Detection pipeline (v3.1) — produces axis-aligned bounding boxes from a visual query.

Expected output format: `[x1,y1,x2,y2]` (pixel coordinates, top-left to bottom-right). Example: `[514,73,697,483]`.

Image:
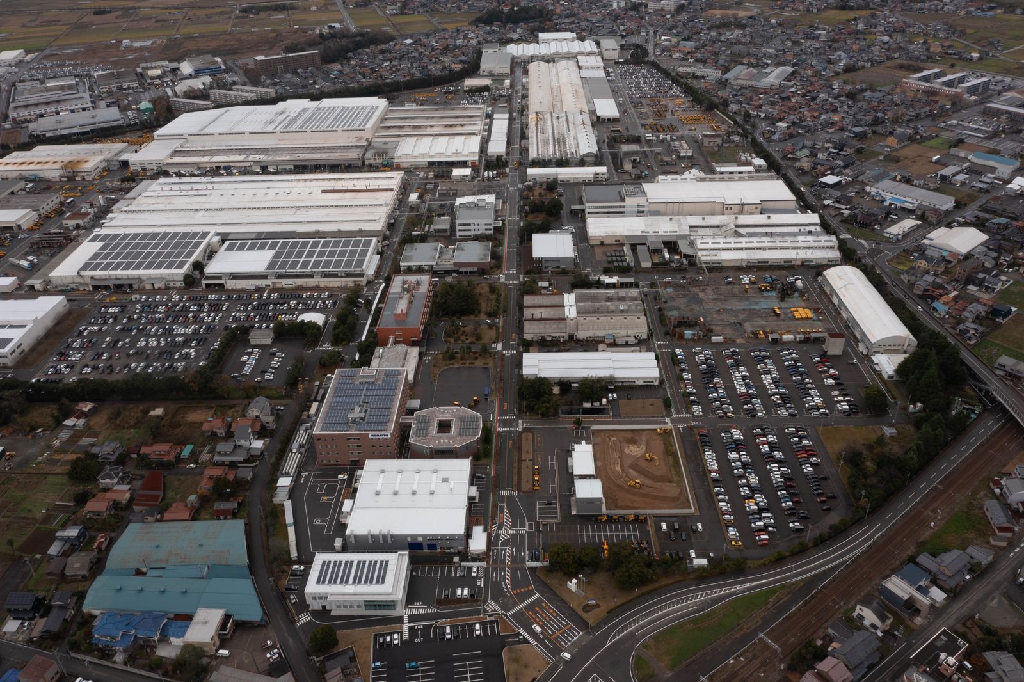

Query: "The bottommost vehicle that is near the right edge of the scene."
[960,658,976,671]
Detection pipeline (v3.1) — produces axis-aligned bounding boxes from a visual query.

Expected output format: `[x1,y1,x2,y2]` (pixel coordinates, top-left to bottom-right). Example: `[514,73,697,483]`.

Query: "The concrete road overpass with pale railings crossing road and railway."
[921,316,1024,424]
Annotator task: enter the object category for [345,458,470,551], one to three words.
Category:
building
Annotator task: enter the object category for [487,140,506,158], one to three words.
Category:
shed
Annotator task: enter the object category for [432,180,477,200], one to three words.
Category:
shed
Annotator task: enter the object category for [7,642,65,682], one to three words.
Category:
house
